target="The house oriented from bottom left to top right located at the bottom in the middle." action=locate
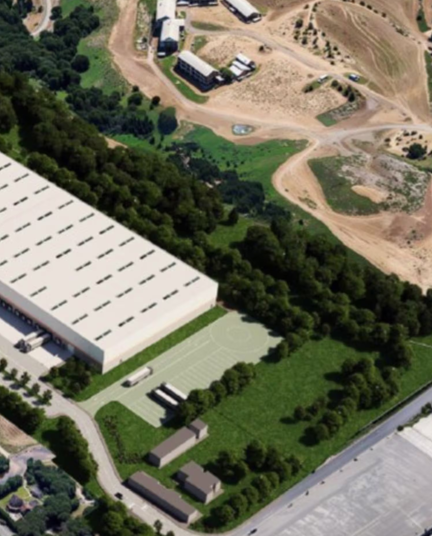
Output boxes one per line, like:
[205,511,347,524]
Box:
[149,414,213,468]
